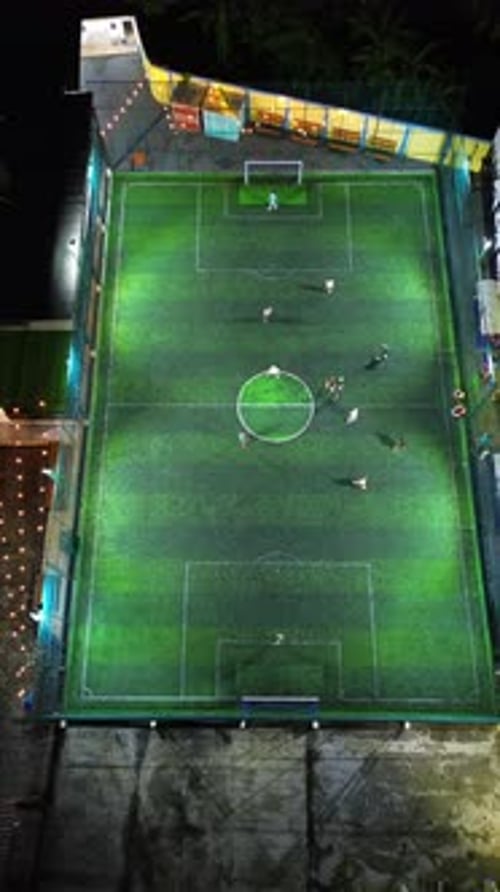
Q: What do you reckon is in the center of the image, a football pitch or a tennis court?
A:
football pitch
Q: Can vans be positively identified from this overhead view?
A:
No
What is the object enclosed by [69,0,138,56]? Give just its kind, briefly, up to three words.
house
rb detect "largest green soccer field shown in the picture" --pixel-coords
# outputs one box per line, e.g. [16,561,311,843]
[58,168,497,716]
